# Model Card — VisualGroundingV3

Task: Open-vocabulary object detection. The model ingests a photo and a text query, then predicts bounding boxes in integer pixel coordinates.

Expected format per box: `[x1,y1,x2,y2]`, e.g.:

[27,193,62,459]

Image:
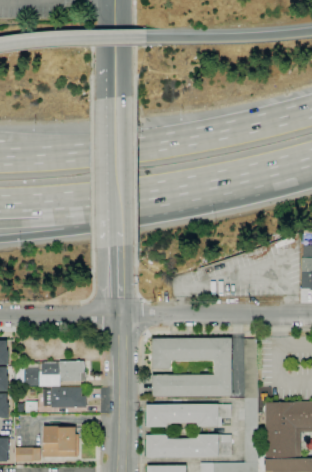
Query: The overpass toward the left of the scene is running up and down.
[90,96,138,245]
